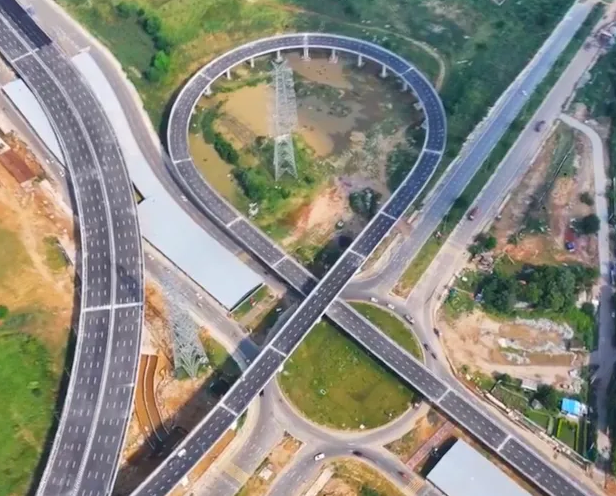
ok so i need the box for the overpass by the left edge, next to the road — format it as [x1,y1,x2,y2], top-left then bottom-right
[0,0,143,496]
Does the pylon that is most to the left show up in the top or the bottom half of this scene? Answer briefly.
bottom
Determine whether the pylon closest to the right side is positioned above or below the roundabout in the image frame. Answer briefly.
above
